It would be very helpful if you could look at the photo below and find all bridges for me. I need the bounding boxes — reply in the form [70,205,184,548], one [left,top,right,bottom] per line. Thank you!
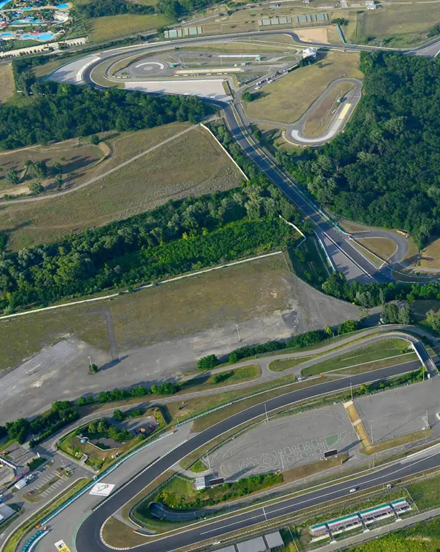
[402,334,440,376]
